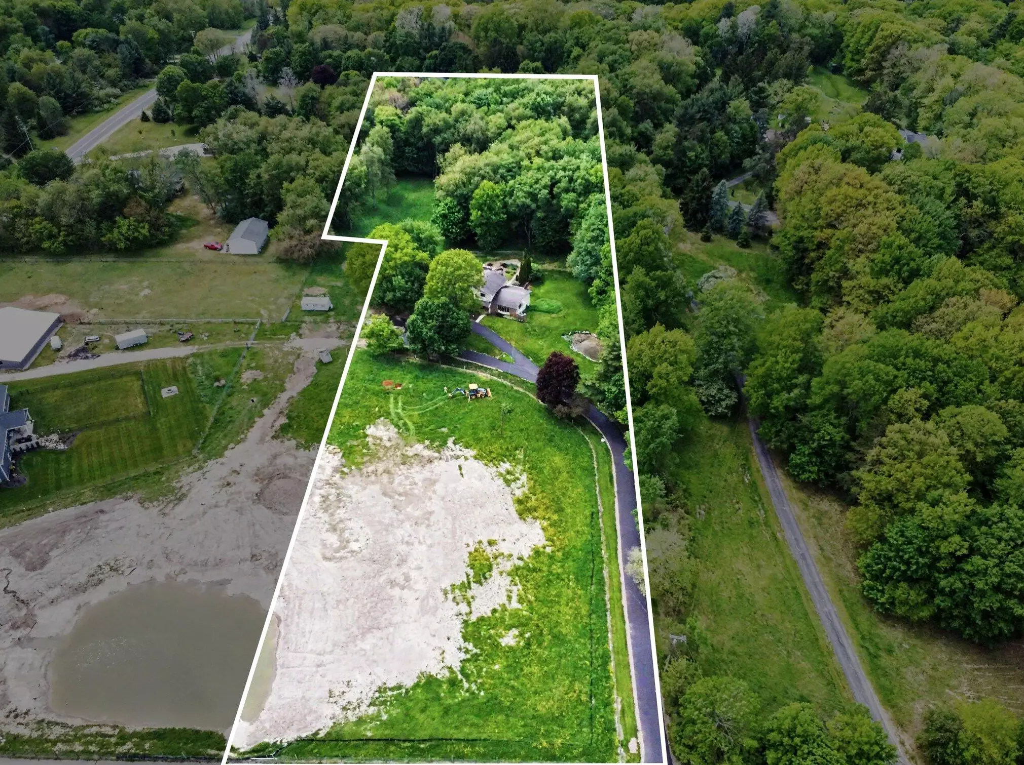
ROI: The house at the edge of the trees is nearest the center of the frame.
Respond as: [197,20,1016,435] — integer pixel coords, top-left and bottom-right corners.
[466,270,532,325]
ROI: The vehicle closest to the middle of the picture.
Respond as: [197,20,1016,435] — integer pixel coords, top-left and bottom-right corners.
[448,384,496,405]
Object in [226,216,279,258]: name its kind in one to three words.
shed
